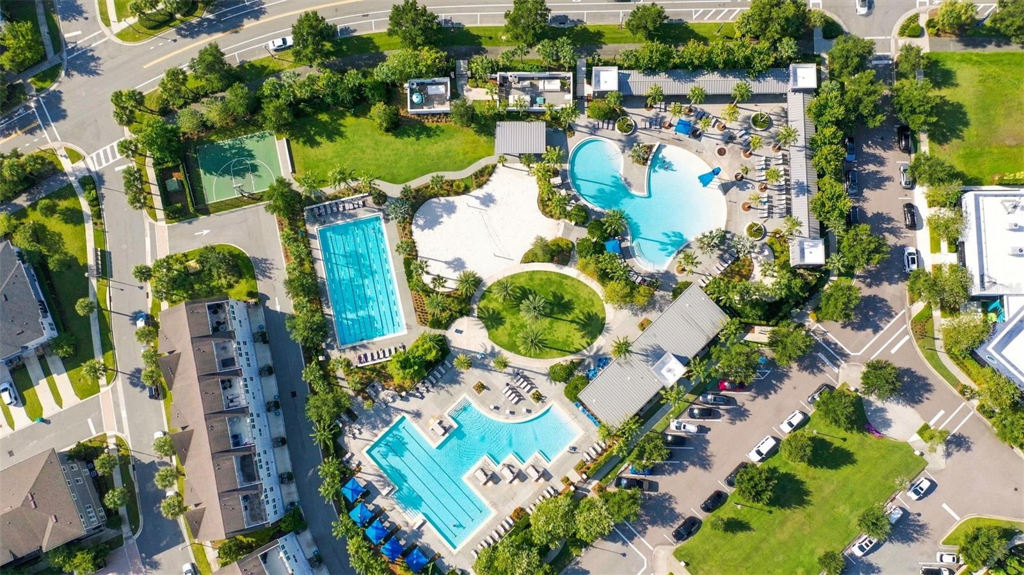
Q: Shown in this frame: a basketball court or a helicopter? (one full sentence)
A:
There is a basketball court in the scene.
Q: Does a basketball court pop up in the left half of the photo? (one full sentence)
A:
Yes, a basketball court shows up in the left half of the photo.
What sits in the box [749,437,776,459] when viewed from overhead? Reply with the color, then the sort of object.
white car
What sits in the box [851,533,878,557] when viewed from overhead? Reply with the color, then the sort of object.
white car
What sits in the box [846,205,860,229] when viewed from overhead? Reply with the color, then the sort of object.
black car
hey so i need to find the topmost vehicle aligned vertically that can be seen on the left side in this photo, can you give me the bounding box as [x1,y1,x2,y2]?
[134,305,149,335]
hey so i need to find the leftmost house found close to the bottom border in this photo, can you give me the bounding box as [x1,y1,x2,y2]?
[0,446,106,568]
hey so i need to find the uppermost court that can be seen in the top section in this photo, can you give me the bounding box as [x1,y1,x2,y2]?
[196,131,285,204]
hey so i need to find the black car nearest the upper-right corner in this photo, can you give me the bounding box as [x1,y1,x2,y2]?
[896,126,911,151]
